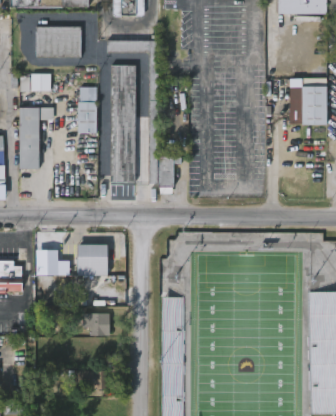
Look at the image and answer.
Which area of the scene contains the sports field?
bottom right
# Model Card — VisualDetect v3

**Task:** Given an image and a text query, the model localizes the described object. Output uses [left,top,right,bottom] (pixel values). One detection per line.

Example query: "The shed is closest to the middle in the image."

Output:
[159,158,182,194]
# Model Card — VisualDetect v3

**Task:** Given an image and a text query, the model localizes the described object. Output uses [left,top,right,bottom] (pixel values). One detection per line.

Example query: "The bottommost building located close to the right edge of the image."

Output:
[290,78,326,126]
